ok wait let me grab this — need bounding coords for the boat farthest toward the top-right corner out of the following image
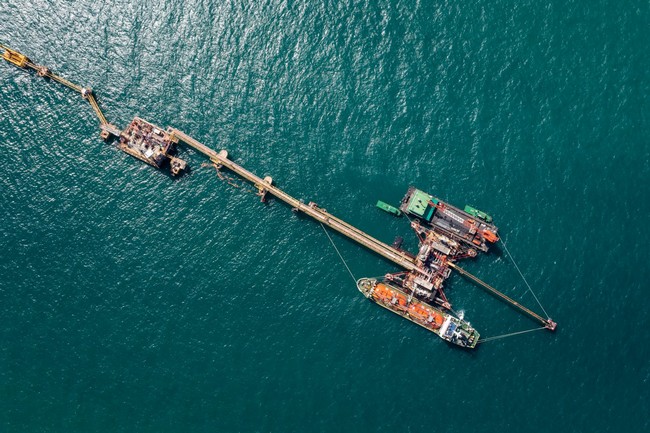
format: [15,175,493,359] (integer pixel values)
[463,204,492,220]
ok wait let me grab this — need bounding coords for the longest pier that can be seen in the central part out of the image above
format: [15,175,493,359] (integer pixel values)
[166,126,432,276]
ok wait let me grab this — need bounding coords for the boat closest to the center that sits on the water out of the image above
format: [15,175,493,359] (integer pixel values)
[376,200,400,215]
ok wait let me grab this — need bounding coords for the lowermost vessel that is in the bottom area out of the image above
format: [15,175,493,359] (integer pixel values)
[357,277,480,349]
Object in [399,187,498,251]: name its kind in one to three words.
ship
